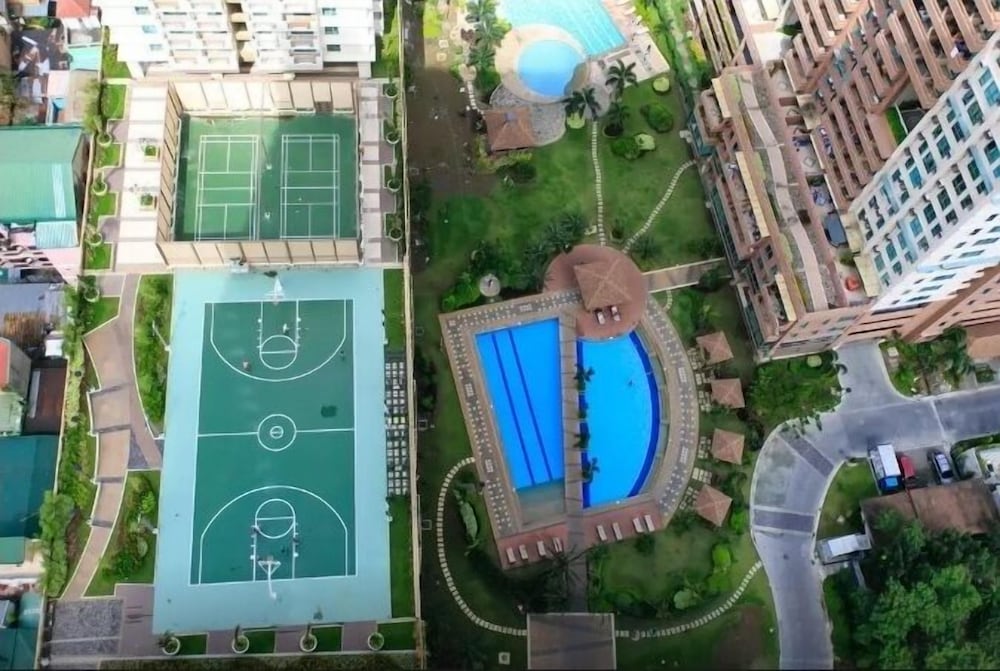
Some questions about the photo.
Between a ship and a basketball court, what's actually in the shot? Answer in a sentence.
Visible in the photo is a basketball court.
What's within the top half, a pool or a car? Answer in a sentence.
There is a pool within the top half.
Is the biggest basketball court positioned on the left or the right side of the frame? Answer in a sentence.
You can find the biggest basketball court on the left side of the picture.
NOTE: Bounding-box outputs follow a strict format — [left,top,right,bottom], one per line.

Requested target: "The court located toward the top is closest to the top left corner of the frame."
[173,114,357,238]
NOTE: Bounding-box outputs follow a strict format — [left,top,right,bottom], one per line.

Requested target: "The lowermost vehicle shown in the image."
[814,535,868,567]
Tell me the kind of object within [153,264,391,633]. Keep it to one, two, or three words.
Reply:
basketball court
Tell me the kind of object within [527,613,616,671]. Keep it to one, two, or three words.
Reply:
building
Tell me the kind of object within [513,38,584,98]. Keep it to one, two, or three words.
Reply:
swimming pool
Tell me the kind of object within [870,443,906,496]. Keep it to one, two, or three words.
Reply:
truck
